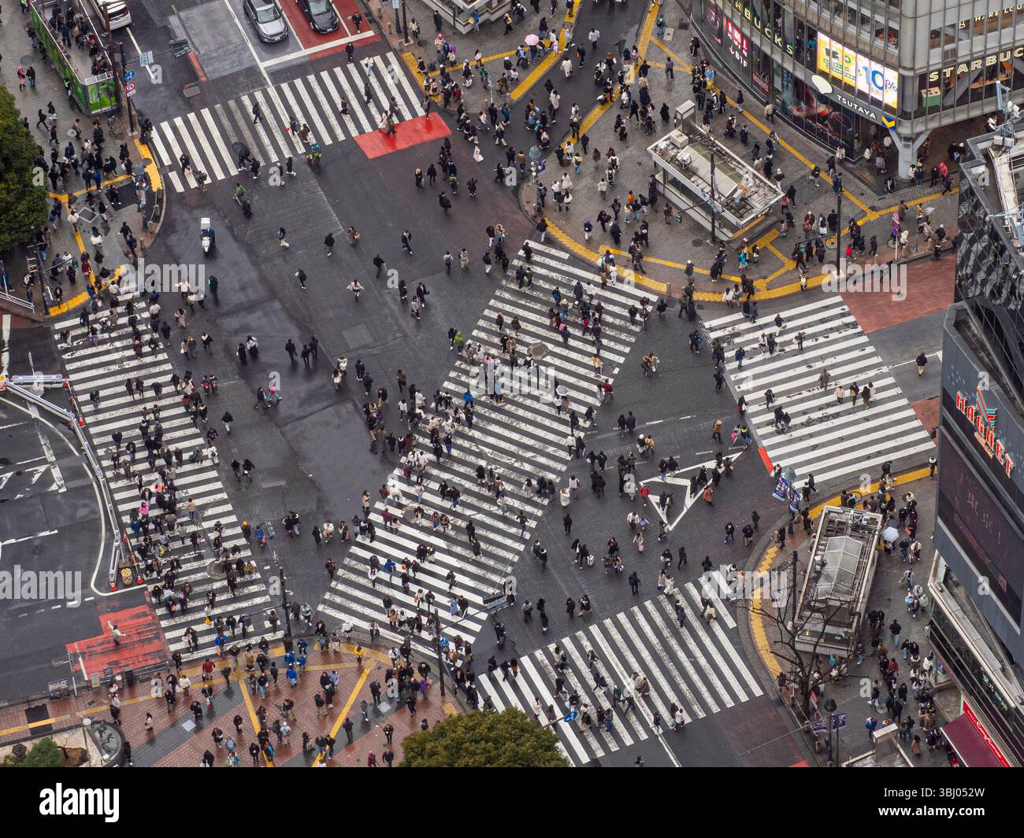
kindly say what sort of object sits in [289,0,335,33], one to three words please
car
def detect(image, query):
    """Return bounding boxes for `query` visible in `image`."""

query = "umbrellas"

[553,385,570,397]
[64,128,79,138]
[230,141,249,163]
[880,527,901,549]
[882,515,900,528]
[521,33,540,47]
